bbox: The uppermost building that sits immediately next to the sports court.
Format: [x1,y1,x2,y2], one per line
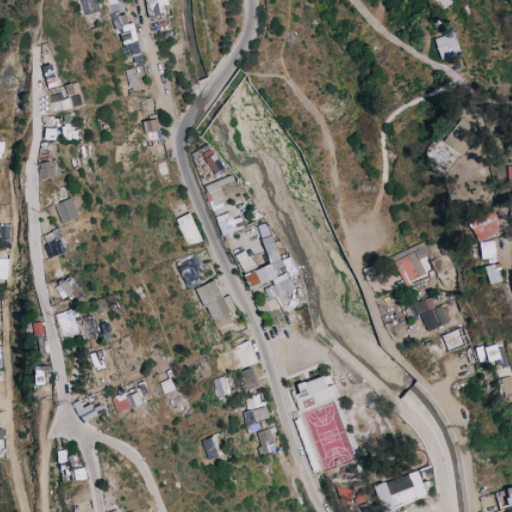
[298,376,339,405]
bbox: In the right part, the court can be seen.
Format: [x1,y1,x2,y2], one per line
[303,401,355,472]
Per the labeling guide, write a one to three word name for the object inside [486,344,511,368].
house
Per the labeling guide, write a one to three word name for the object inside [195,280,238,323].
building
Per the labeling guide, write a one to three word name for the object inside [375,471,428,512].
building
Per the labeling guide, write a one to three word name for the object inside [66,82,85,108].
house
